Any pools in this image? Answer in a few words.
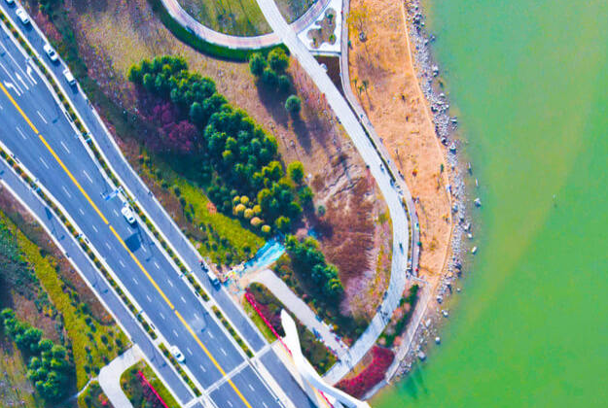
No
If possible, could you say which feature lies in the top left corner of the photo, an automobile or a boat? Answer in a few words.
automobile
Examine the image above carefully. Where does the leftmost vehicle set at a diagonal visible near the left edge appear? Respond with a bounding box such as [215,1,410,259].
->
[14,8,29,25]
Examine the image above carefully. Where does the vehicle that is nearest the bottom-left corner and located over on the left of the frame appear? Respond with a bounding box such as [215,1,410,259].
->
[169,344,184,362]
